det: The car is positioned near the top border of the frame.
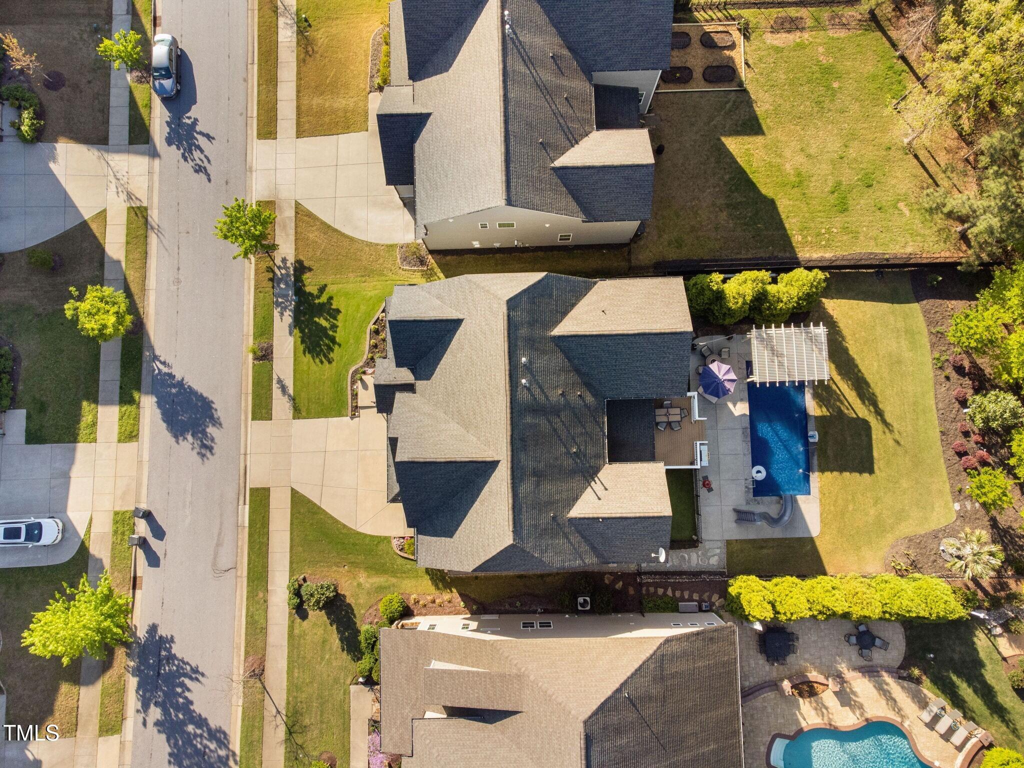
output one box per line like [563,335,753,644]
[148,31,181,96]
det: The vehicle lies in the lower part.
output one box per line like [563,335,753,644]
[0,517,59,549]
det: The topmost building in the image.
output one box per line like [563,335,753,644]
[376,0,677,245]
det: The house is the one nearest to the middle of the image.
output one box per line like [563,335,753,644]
[374,273,693,571]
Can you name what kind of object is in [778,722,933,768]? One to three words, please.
swimming pool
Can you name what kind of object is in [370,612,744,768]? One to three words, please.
house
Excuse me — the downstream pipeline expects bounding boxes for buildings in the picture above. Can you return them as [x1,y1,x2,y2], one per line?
[370,612,744,768]
[374,273,693,571]
[376,0,677,245]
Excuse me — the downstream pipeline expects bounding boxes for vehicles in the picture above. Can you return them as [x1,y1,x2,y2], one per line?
[148,31,181,96]
[0,517,59,549]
